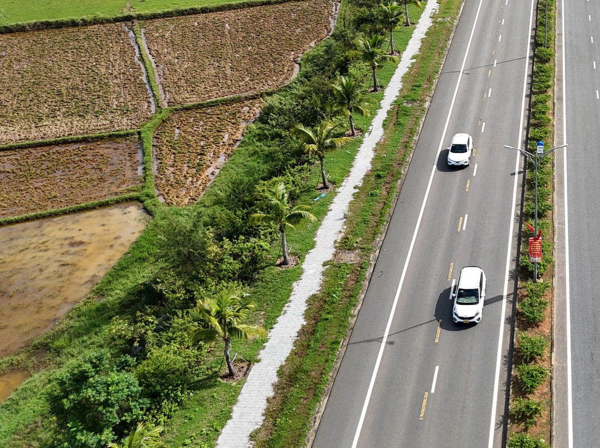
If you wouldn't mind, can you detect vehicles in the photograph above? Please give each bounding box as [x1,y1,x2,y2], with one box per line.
[446,133,474,167]
[450,267,486,325]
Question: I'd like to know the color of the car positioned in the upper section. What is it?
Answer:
white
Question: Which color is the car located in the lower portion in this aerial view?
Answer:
white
